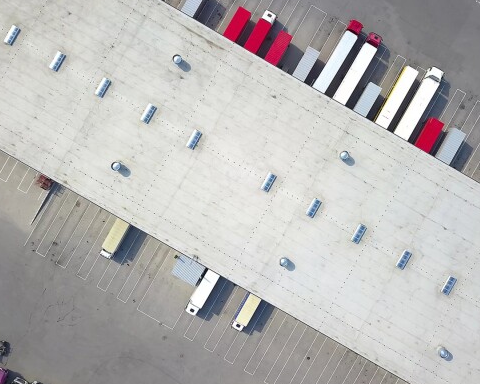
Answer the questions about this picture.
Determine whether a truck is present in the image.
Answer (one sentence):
Yes, the image includes a truck.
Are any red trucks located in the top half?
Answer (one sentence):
Yes, looking in the top half, one can make out a red truck.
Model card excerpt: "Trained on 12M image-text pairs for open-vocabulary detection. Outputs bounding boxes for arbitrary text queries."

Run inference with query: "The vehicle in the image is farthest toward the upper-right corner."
[415,66,444,93]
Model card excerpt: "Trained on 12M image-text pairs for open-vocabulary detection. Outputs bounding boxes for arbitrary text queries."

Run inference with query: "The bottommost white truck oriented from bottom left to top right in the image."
[231,291,261,330]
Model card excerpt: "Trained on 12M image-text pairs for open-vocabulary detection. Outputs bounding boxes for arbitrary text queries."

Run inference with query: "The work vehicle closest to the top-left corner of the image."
[37,175,51,189]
